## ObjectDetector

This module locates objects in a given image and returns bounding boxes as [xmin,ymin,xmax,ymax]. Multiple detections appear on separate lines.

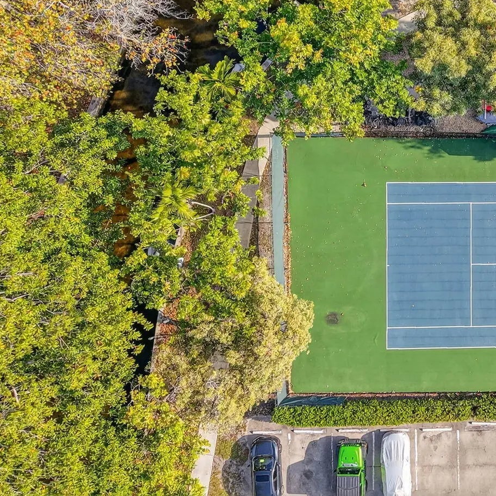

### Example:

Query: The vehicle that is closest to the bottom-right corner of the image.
[381,432,411,496]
